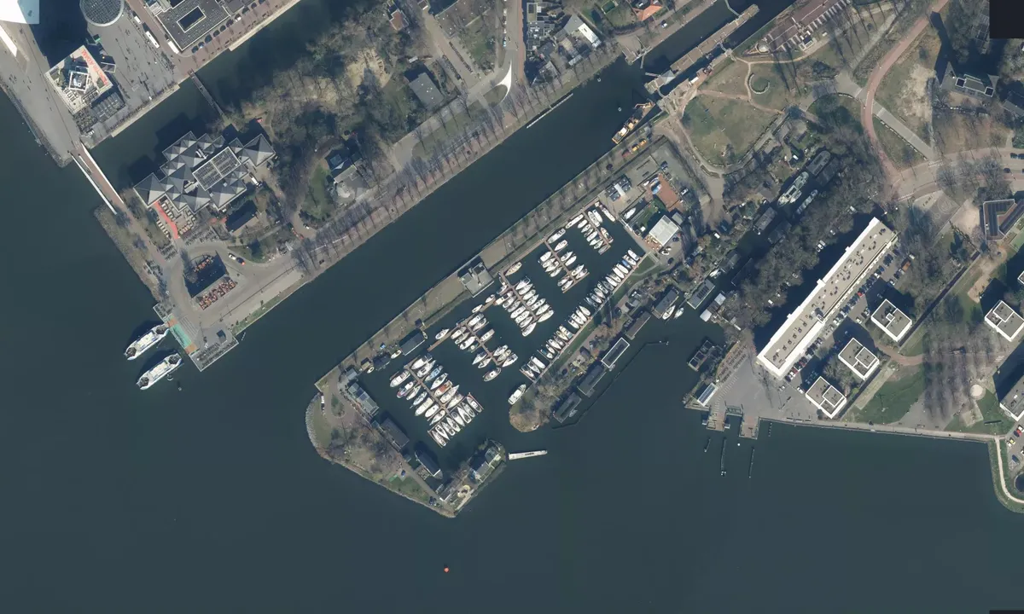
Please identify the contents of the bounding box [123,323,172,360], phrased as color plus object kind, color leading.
white ship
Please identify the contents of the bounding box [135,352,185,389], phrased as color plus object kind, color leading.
white ship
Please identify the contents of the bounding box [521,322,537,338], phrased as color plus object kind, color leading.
white boat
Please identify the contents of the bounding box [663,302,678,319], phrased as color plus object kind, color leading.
white boat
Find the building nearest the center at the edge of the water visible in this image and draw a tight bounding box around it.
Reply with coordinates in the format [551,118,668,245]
[461,263,493,298]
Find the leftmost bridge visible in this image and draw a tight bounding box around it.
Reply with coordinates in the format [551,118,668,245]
[68,143,125,213]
